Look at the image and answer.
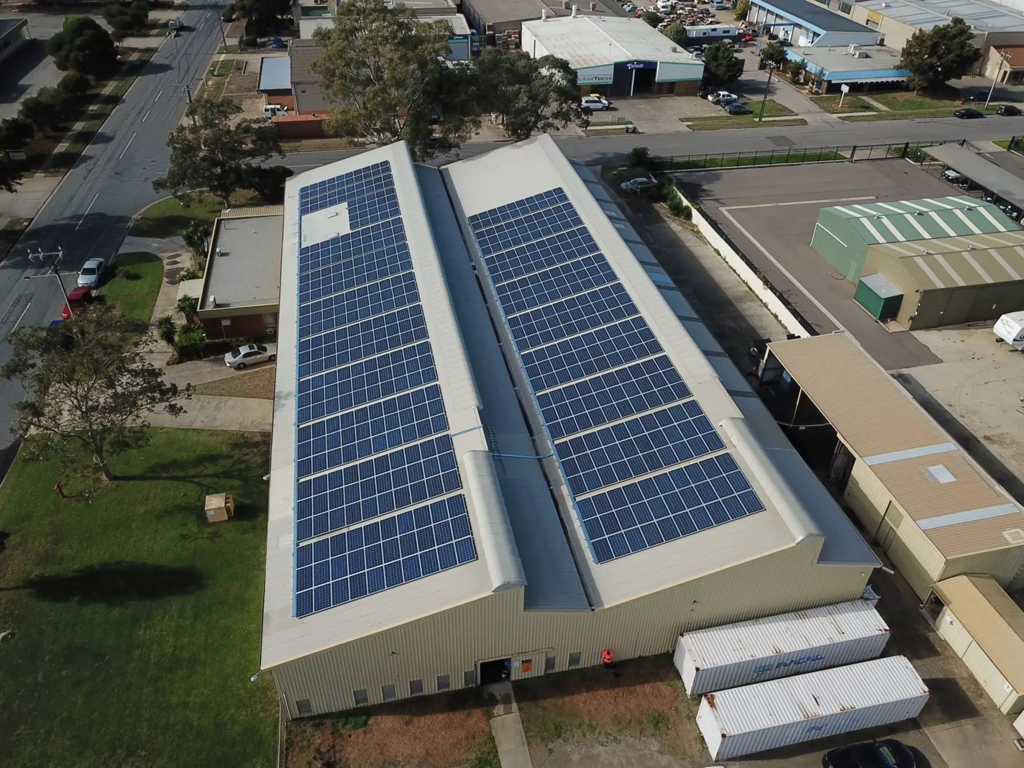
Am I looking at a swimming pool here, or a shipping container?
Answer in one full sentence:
It is a shipping container that can be seen here.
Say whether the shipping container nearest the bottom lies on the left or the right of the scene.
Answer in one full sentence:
You can find the shipping container nearest the bottom on the right side of the picture.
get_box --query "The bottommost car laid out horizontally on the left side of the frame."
[229,340,275,366]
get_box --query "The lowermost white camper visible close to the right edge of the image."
[995,309,1024,356]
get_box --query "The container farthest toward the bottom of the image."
[697,654,930,761]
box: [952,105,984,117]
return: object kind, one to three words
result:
vehicle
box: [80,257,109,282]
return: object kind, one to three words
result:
car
